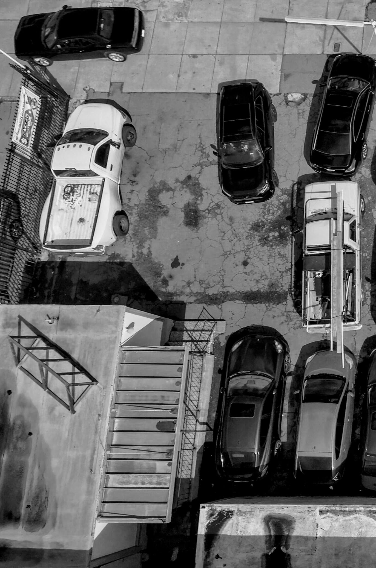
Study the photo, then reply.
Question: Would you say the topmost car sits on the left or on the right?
left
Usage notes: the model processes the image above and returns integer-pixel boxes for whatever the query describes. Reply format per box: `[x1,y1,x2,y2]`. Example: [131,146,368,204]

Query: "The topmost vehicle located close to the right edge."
[306,50,376,176]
